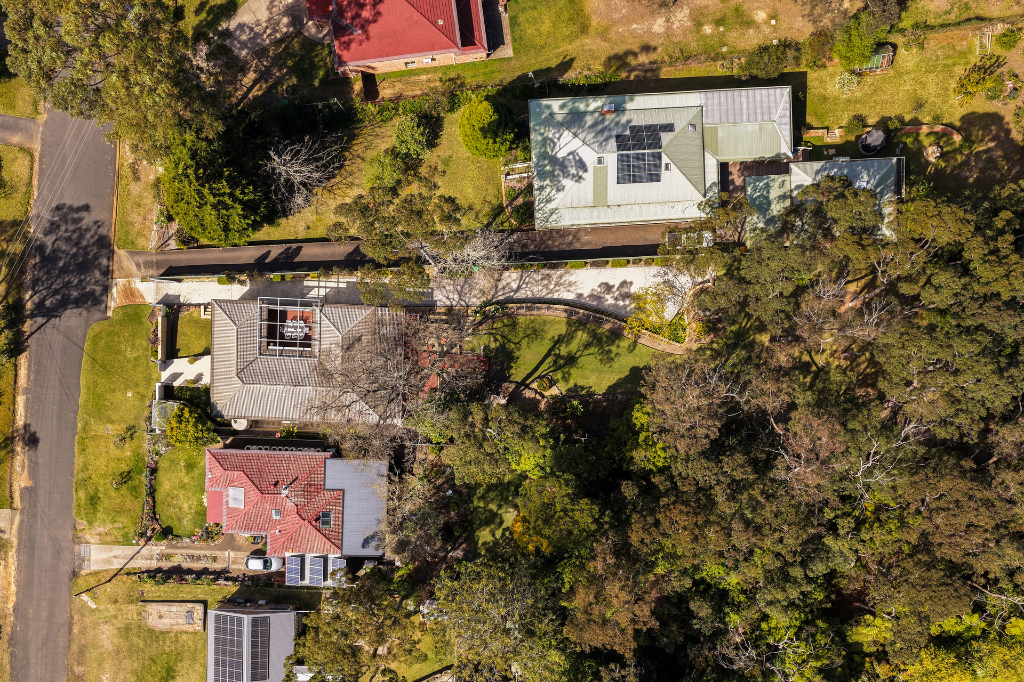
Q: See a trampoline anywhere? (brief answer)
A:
Yes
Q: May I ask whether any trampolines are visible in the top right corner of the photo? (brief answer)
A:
Yes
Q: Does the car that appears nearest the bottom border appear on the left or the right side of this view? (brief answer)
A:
left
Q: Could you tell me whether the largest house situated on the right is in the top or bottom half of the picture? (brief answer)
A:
top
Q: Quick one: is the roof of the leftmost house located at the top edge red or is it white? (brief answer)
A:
red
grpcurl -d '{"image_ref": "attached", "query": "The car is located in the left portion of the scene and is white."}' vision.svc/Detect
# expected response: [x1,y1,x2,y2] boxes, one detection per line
[244,554,283,574]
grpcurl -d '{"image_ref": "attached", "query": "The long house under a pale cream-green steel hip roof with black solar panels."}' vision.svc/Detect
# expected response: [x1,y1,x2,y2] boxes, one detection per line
[528,85,794,234]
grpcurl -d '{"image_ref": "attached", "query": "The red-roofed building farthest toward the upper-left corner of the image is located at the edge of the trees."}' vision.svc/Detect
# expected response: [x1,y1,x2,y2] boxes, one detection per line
[305,0,489,77]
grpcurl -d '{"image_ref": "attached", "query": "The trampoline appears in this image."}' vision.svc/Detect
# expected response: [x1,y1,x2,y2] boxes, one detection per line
[857,125,892,156]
